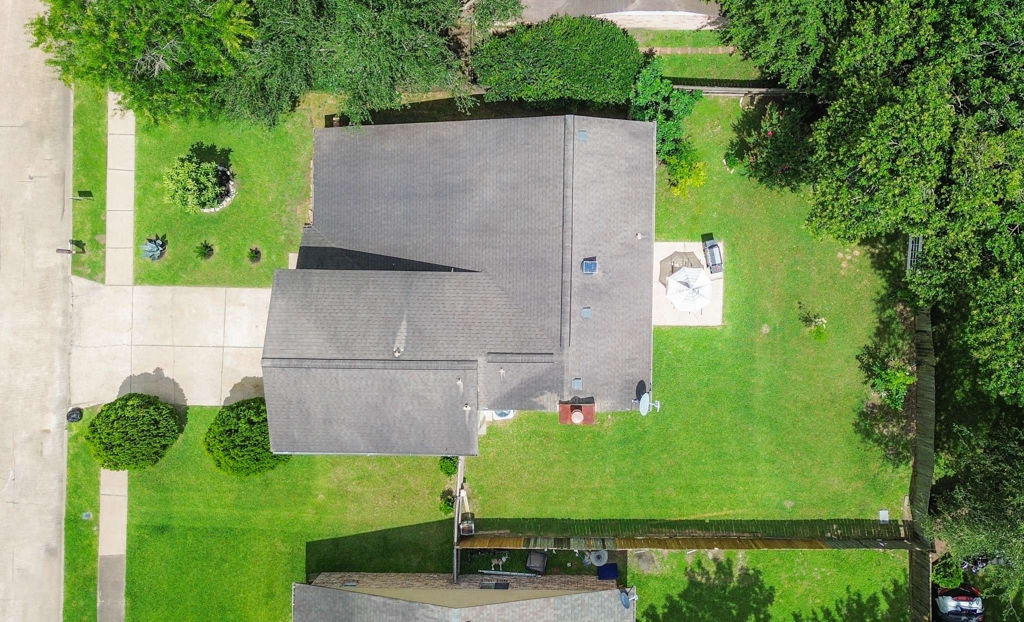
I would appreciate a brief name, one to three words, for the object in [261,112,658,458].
house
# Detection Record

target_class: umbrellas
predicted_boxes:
[666,266,712,312]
